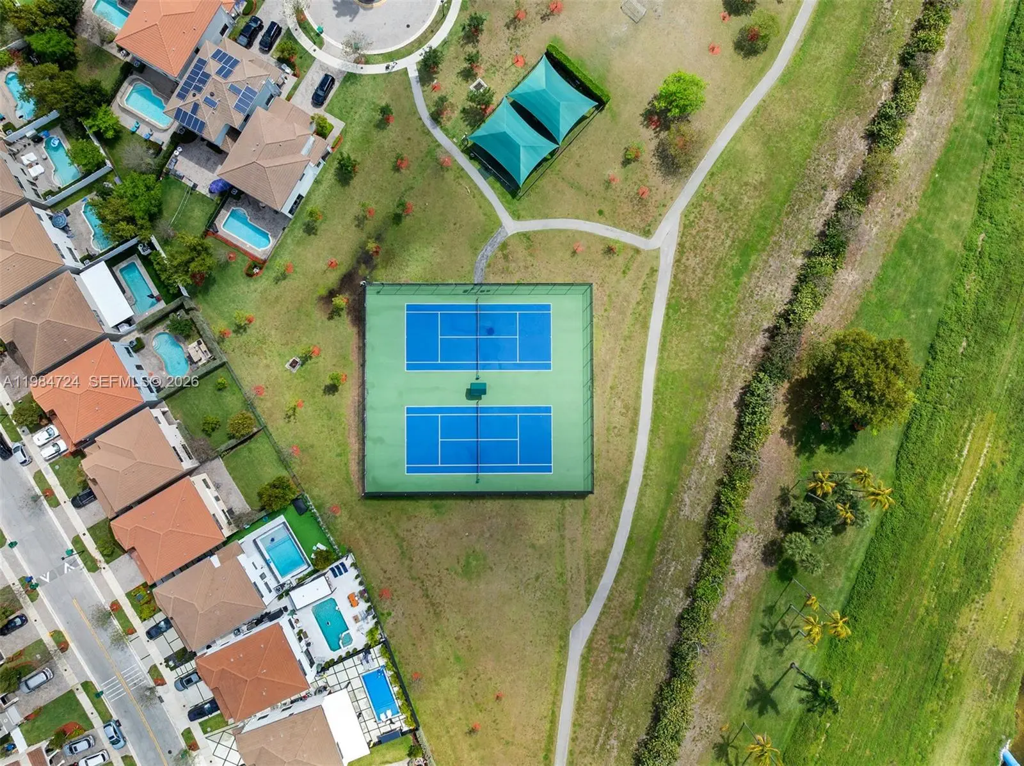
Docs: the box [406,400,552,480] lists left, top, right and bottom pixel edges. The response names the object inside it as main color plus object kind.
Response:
blue tennis court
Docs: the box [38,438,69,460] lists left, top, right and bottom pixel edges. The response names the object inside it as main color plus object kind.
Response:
white car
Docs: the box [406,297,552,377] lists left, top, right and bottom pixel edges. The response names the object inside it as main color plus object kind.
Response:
blue tennis court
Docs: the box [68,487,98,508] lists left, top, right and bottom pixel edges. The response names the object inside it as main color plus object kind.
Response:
black car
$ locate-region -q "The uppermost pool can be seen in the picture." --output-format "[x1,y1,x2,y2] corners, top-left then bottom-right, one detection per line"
[91,0,130,30]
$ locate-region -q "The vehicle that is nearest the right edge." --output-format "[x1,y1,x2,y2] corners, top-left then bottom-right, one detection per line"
[313,74,336,108]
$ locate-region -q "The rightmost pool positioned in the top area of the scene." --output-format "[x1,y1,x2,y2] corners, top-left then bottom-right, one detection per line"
[221,206,274,251]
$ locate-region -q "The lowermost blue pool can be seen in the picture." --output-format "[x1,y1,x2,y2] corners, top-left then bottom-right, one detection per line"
[360,668,401,724]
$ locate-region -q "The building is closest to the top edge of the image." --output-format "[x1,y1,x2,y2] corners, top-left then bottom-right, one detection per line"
[114,0,246,83]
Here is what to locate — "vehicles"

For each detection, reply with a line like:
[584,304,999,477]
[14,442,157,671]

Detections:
[260,21,283,55]
[189,699,220,720]
[0,613,31,634]
[238,14,264,51]
[0,433,16,464]
[65,733,96,756]
[68,487,98,508]
[313,74,336,108]
[22,668,55,692]
[29,424,60,446]
[145,616,173,638]
[11,439,35,469]
[80,746,113,766]
[103,720,127,749]
[38,438,69,460]
[173,670,204,692]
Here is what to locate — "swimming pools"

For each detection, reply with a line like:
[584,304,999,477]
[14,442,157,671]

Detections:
[120,77,178,132]
[221,206,274,251]
[360,668,401,724]
[42,134,81,188]
[340,633,354,649]
[80,200,109,251]
[116,259,161,316]
[310,596,351,653]
[91,0,130,30]
[255,522,309,582]
[151,330,190,379]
